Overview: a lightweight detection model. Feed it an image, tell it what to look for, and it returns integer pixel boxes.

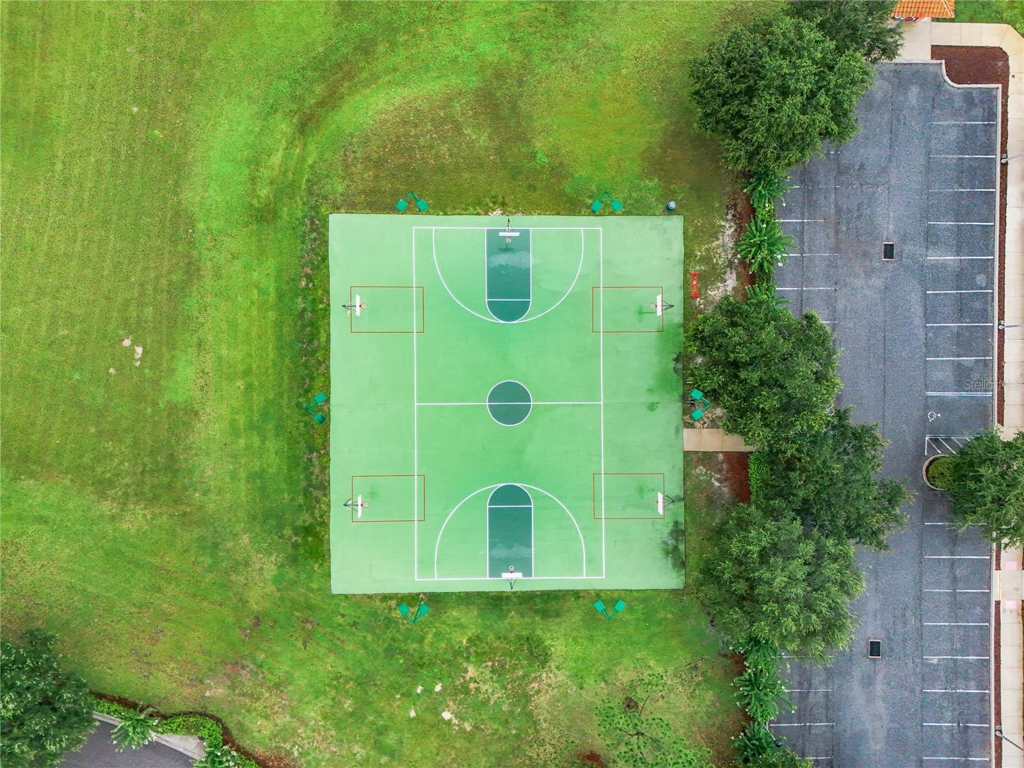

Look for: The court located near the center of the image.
[328,213,685,595]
